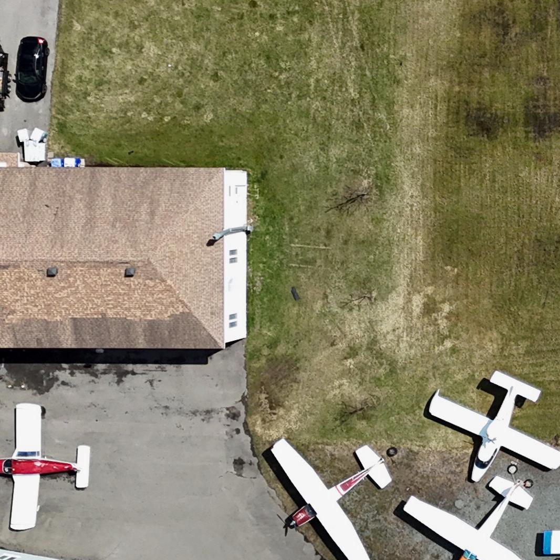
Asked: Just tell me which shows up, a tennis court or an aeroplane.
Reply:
aeroplane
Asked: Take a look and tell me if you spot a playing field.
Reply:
No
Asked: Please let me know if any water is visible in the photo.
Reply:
No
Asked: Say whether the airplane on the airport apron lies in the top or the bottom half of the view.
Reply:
bottom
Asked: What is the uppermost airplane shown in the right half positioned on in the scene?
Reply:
grass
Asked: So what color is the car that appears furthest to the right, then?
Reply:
black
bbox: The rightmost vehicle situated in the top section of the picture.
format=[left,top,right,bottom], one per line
[13,36,49,99]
